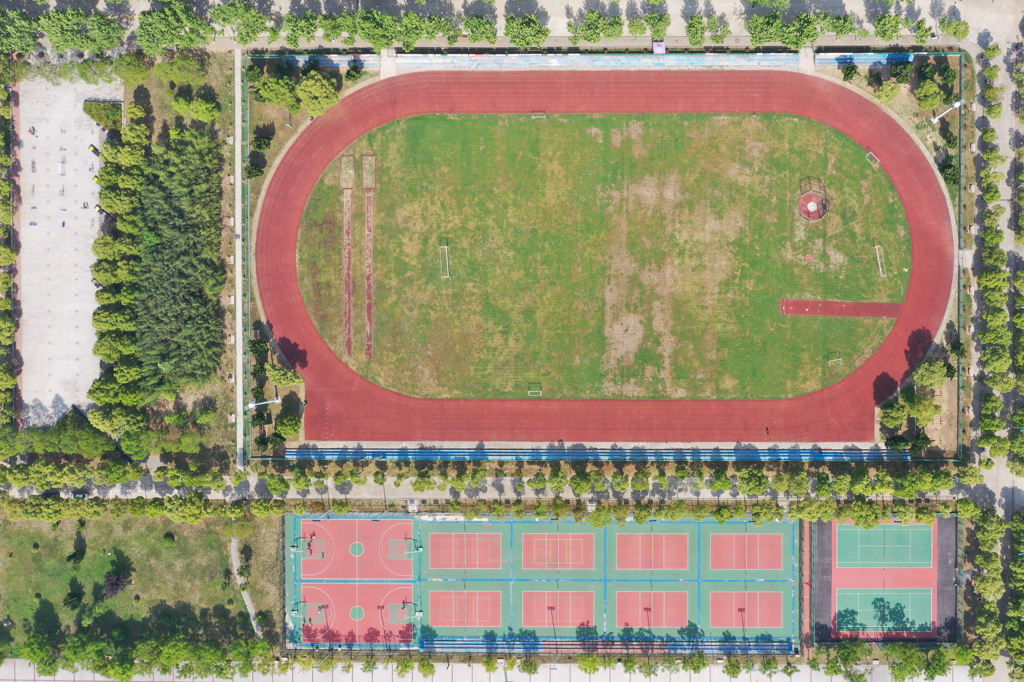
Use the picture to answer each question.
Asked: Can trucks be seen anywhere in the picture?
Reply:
No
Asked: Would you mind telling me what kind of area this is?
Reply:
sports ground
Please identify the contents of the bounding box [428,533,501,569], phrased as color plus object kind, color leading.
pink sports court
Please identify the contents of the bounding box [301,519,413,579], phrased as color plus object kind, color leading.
pink basketball court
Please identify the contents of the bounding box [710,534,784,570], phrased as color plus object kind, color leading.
pink sports court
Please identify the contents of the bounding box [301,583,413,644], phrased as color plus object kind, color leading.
pink basketball court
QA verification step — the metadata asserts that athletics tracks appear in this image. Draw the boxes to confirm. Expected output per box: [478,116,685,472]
[250,66,960,449]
